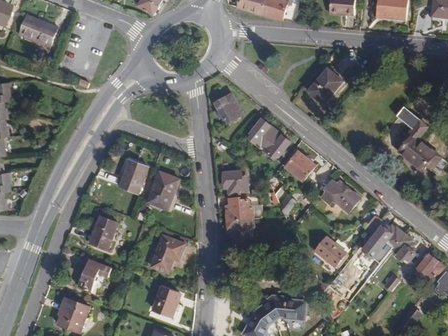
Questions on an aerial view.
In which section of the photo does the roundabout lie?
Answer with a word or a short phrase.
top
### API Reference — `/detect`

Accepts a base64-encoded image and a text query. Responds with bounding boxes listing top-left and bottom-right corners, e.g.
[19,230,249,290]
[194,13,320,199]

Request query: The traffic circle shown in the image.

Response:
[126,0,234,95]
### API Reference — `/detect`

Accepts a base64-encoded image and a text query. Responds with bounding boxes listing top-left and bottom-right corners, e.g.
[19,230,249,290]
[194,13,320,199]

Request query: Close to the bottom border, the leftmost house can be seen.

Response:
[54,296,92,336]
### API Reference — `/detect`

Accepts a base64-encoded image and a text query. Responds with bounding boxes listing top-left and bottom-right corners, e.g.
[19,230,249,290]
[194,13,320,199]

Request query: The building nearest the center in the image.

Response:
[220,170,250,197]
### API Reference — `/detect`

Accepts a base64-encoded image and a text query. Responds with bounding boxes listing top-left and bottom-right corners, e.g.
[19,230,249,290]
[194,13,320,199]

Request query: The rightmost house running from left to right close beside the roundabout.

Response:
[235,0,289,24]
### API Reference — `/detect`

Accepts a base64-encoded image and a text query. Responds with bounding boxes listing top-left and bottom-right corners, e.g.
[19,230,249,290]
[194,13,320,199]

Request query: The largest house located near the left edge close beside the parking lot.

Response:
[18,14,60,50]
